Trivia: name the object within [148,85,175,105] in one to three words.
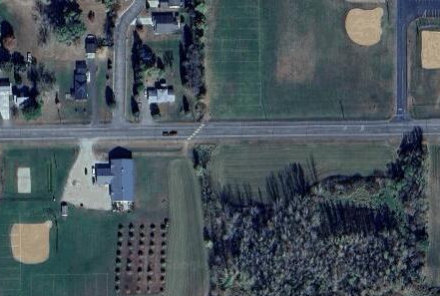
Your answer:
house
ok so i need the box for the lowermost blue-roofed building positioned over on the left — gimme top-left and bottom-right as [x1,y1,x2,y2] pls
[94,158,134,201]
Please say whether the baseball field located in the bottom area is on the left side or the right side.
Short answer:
left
